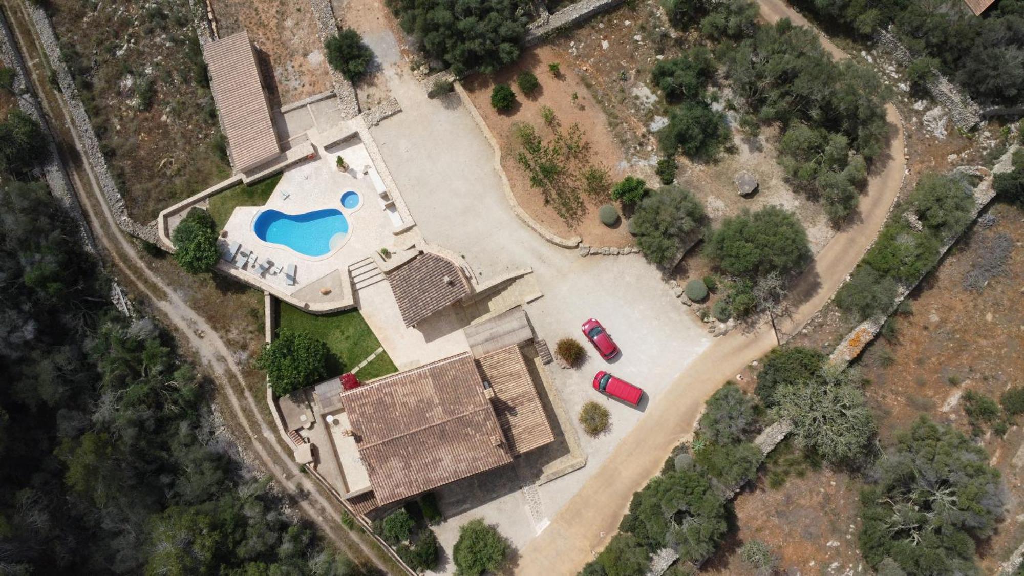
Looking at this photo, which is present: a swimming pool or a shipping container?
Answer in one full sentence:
It is a swimming pool that can be seen here.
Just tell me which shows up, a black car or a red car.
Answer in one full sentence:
The image shows a red car.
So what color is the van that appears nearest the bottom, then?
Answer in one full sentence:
The van that appears nearest the bottom is red.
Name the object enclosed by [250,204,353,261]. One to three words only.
swimming pool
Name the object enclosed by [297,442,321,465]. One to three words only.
shed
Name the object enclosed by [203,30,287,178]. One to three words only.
barn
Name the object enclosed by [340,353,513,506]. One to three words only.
house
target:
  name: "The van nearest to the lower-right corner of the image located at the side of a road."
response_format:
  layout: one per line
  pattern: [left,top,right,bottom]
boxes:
[591,369,644,408]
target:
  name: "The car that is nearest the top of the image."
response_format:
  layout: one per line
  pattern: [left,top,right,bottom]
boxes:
[582,317,620,363]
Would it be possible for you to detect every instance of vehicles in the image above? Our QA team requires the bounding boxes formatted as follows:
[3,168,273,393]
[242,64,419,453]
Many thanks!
[591,369,644,408]
[582,317,620,363]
